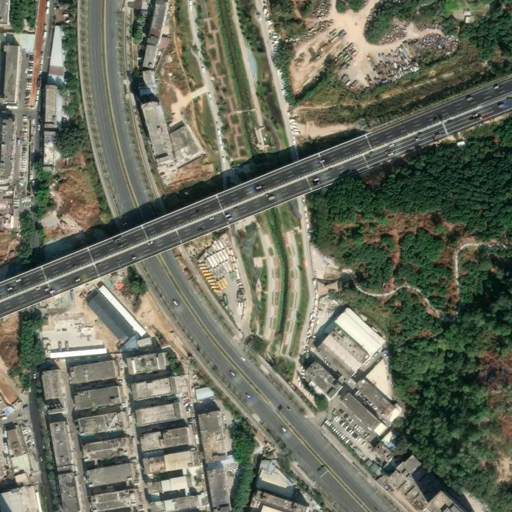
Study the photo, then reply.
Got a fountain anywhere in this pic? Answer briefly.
No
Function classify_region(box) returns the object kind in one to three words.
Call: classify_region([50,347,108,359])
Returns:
shed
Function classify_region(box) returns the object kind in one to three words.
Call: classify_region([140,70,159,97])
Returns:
shed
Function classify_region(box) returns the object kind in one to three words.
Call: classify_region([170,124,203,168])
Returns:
building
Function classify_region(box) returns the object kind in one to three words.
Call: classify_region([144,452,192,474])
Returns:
building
